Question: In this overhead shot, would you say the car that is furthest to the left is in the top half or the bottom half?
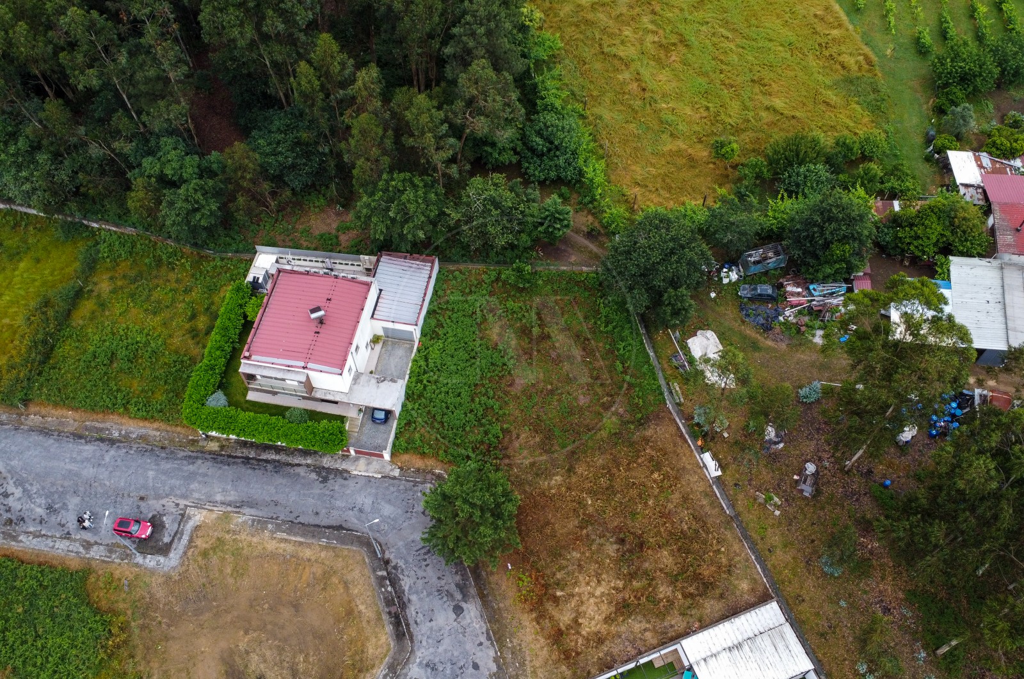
bottom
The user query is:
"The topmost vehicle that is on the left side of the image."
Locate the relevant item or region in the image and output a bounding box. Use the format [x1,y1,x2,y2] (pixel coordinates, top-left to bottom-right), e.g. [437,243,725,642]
[372,407,392,423]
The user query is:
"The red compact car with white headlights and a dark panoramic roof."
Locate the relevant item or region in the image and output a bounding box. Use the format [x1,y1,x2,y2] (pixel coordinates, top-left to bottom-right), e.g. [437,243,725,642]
[110,514,158,543]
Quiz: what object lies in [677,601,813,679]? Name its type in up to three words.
shed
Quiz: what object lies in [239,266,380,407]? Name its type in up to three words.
house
